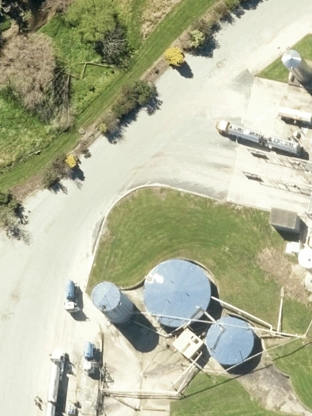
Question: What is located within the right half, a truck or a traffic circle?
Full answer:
The feature located within the right half is a truck.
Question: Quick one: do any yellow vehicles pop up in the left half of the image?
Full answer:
No, I see no yellow vehicle in the left half of the image.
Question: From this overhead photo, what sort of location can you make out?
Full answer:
It's an industrial area.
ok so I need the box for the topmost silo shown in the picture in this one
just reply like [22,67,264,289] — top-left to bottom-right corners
[283,50,312,86]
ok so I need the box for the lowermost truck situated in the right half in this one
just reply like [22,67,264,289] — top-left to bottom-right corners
[216,118,307,159]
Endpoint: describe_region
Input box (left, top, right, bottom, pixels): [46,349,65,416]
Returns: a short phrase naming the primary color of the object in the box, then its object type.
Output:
white vehicle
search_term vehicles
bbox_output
[67,403,81,416]
[86,340,99,374]
[66,280,80,312]
[279,110,312,127]
[216,118,307,159]
[46,349,65,416]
